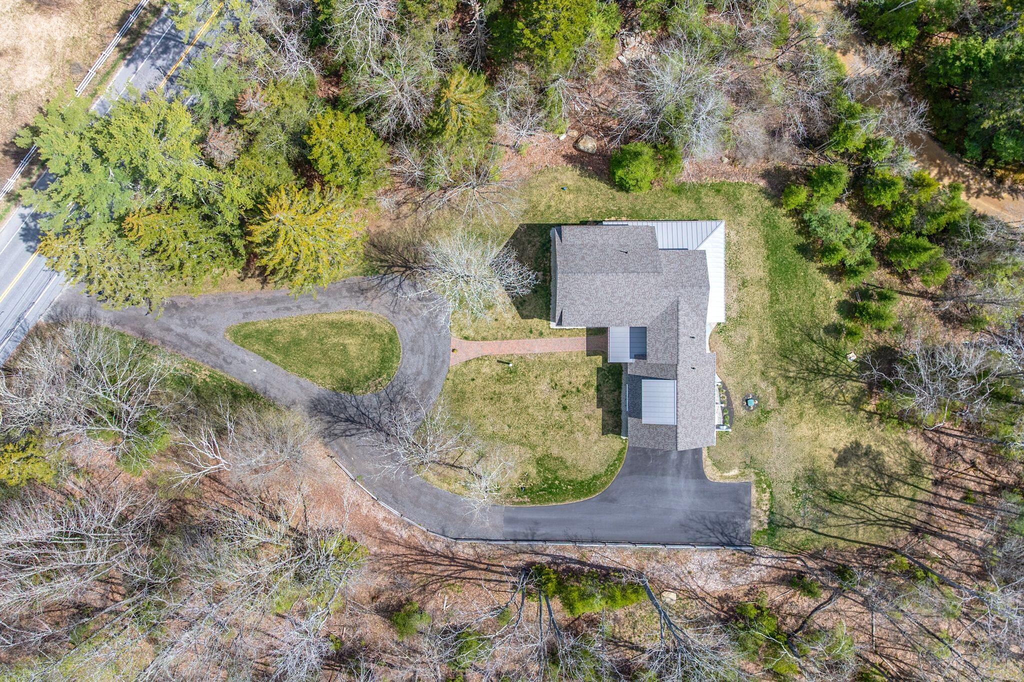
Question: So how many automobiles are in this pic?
0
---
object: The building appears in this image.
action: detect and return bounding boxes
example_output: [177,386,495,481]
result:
[554,220,726,451]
